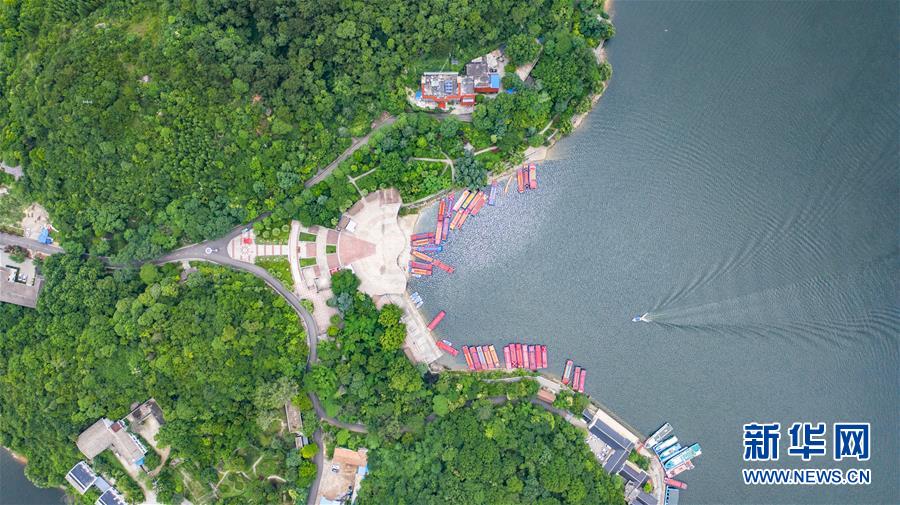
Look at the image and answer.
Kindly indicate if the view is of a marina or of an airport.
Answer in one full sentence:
The area seen from above is a marina.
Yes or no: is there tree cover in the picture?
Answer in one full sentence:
Yes, tree cover shows up in the scene.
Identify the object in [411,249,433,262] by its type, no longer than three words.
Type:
boat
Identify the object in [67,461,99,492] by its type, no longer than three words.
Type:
house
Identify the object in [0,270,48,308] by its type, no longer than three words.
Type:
building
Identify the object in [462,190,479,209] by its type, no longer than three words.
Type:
boat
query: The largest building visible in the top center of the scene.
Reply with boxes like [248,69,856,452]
[422,72,461,107]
